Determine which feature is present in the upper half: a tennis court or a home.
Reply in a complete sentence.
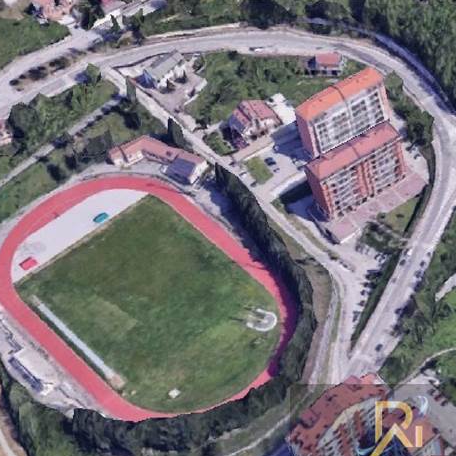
Looking in the upper half, you will find a home.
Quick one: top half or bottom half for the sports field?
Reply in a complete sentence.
The bottom half of the photo is where the sports field is.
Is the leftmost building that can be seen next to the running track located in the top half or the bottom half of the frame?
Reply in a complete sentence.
The top half of the photo is where the leftmost building that can be seen next to the running track is.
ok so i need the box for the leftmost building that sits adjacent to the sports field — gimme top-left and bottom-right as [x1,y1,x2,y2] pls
[106,138,144,170]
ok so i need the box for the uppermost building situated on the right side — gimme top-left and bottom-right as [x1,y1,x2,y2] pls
[316,52,346,73]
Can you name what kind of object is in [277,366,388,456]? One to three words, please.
building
